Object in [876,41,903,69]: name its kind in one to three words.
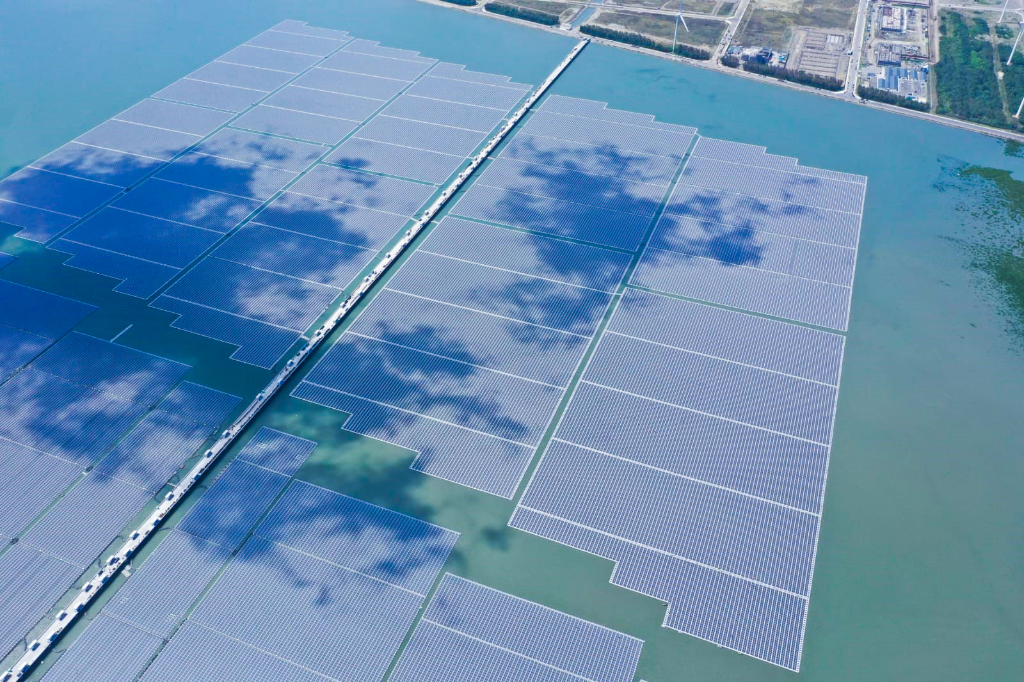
building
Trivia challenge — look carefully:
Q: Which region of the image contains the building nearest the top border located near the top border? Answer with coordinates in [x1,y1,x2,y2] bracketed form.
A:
[879,5,903,35]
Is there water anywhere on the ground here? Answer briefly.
Yes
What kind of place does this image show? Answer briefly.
solar farm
